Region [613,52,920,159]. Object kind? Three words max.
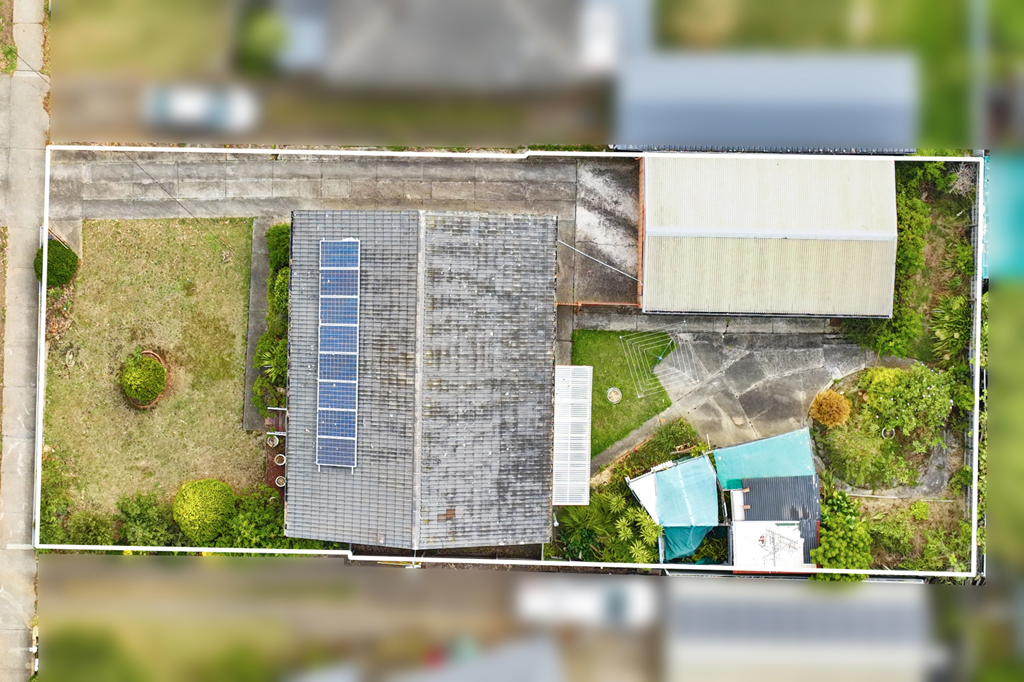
building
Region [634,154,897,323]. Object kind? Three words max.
building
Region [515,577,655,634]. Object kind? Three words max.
van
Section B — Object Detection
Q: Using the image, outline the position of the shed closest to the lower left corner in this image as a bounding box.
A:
[295,651,365,682]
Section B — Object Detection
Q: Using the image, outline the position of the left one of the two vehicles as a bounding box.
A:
[143,80,260,134]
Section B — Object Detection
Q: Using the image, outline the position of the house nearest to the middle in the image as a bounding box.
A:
[281,208,560,548]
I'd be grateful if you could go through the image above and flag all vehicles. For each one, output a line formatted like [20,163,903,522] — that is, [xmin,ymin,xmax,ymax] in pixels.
[515,577,655,634]
[143,80,260,134]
